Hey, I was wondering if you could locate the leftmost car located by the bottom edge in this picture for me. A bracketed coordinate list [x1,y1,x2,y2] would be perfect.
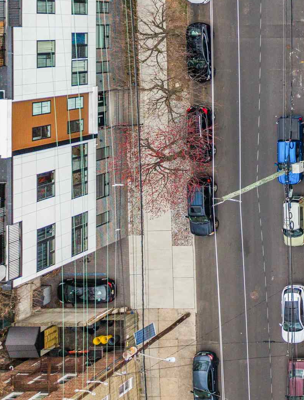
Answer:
[190,349,223,400]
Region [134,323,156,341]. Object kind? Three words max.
solar panel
